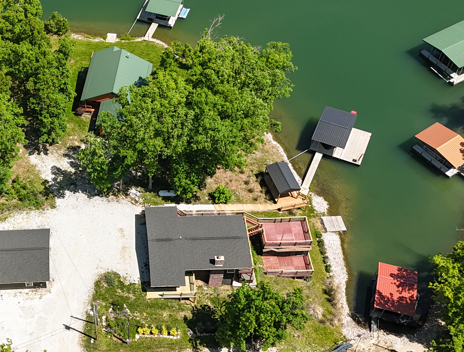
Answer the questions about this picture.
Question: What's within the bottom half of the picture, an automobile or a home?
home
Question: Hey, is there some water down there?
Yes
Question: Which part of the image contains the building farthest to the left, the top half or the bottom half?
bottom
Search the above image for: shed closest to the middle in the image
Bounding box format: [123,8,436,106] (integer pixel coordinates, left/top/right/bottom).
[263,163,300,201]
